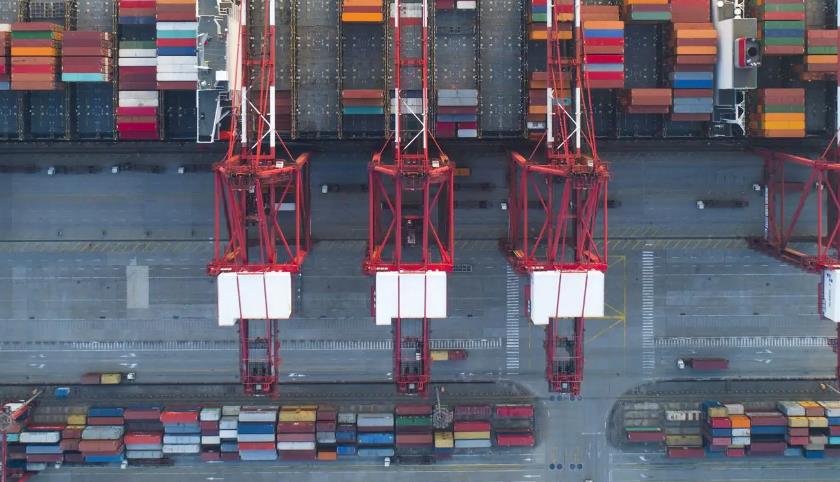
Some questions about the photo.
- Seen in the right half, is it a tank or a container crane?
container crane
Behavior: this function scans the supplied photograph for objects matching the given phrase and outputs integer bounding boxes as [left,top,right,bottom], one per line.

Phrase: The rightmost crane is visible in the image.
[743,0,840,390]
